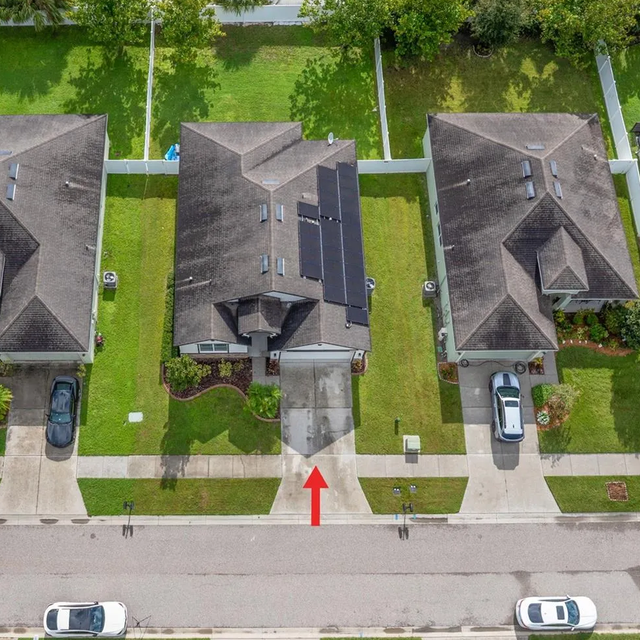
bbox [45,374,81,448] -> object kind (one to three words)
car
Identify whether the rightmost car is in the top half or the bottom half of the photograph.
bottom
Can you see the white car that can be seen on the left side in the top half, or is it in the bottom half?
bottom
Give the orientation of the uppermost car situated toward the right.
up and down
